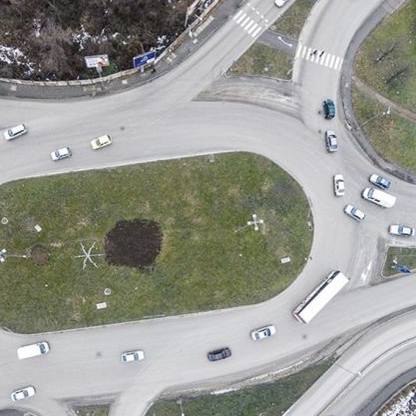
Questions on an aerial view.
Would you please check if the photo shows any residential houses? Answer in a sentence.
No, I can see no residential house in this picture.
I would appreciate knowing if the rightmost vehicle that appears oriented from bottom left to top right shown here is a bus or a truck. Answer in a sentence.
What you see as the rightmost vehicle that appears oriented from bottom left to top right is a bus.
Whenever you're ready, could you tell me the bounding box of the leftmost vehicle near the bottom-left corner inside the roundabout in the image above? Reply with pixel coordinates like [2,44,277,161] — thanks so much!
[18,341,48,358]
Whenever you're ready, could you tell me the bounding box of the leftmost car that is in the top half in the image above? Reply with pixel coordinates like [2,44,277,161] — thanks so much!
[4,124,28,140]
